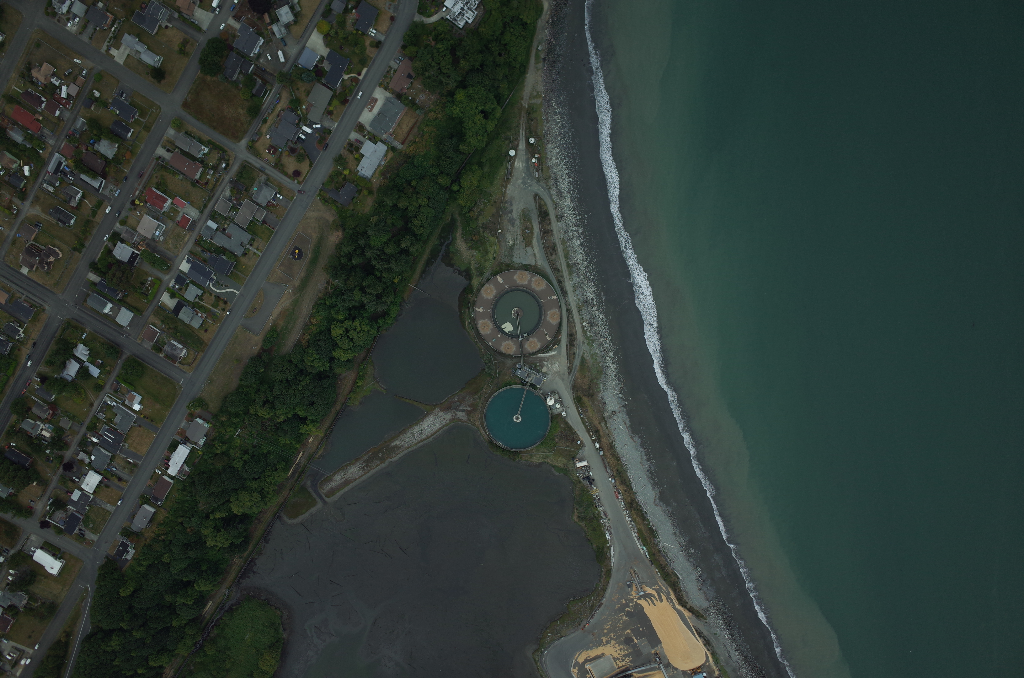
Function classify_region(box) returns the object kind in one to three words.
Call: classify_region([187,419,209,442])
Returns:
house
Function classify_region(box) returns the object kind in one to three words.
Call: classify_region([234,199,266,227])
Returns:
house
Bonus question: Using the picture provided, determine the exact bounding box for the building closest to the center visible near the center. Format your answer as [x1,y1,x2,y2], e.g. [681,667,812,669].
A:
[515,366,547,387]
